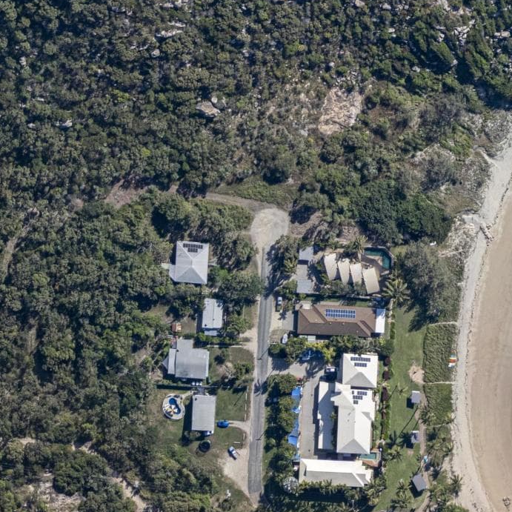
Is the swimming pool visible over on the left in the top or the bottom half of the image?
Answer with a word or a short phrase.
bottom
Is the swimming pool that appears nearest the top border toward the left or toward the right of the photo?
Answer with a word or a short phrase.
right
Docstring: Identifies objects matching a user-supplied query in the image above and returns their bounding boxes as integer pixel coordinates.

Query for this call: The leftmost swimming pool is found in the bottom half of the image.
[162,394,185,419]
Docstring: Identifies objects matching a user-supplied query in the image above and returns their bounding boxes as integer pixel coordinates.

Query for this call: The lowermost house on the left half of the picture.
[191,395,217,431]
